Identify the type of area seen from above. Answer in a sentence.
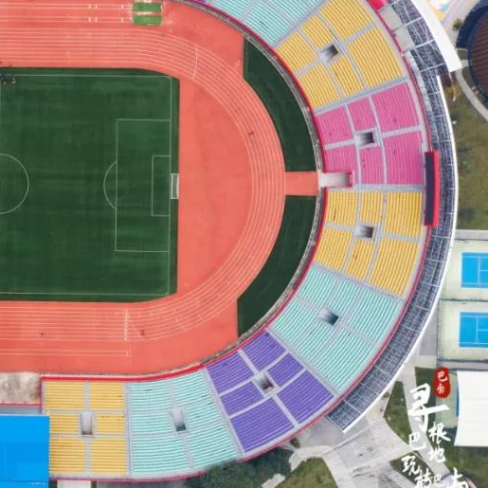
What you see here is a sports ground.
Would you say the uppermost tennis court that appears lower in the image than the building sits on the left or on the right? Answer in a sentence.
The uppermost tennis court that appears lower in the image than the building is on the right side of the image.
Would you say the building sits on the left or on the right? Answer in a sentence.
You can find the building on the right side of the picture.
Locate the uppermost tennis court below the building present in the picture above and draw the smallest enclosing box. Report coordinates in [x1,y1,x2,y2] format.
[447,238,488,299]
